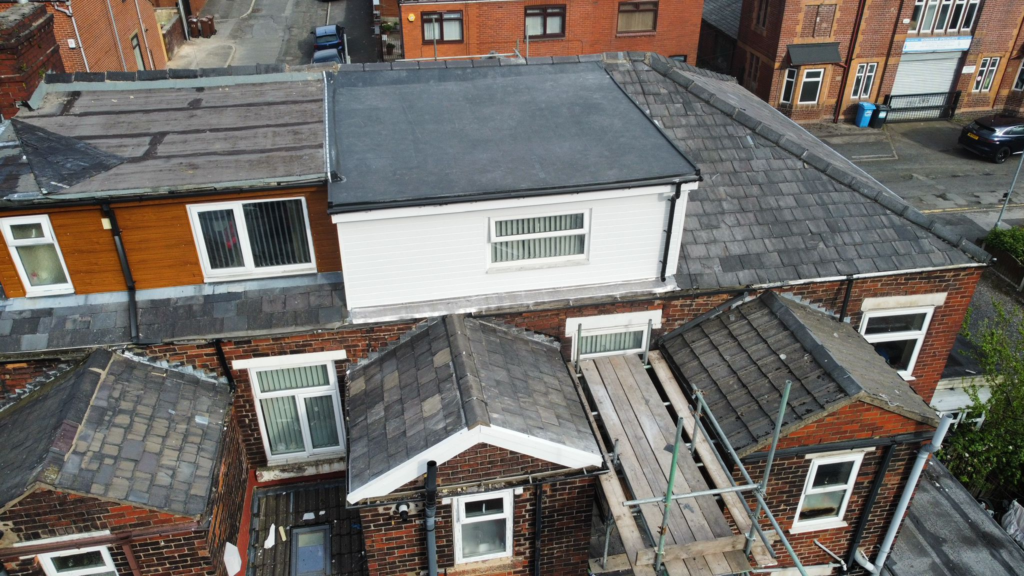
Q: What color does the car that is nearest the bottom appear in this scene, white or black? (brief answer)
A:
black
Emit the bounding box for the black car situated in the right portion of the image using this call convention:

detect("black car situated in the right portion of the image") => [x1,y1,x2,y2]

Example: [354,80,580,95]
[958,109,1024,163]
